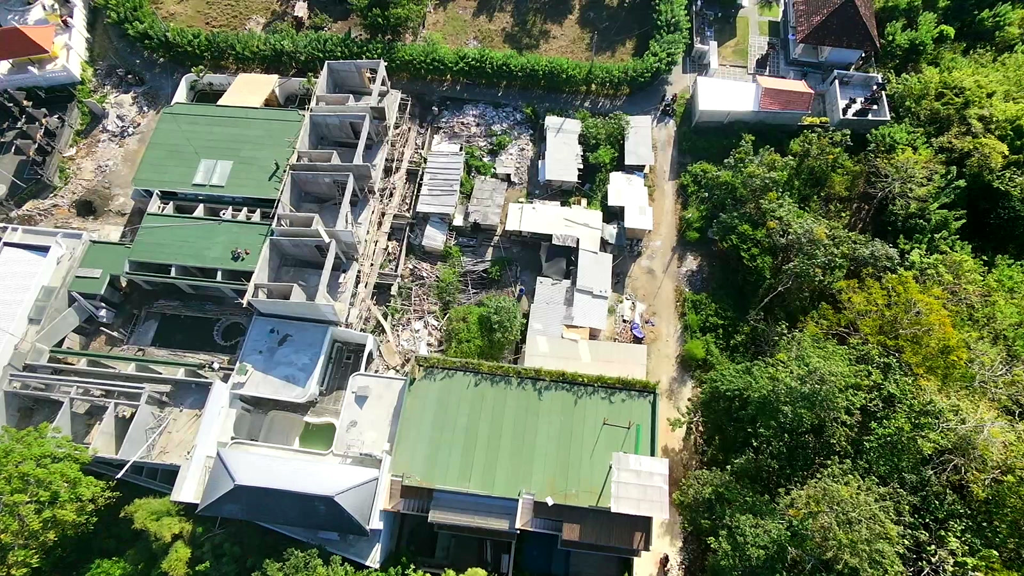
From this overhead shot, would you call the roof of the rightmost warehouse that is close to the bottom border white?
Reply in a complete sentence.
No, the roof of the rightmost warehouse that is close to the bottom border is actually green.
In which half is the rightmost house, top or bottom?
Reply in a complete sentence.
The rightmost house sits in the top half of the picture.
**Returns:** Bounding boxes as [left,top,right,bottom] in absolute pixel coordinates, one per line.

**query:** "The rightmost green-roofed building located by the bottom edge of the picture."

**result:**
[386,355,659,576]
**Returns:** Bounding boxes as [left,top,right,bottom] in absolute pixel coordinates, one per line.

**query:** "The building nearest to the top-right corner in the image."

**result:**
[788,0,881,71]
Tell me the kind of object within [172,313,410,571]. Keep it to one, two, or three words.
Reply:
house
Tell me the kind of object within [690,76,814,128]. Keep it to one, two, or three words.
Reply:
building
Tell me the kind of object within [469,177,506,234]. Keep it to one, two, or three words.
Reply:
shed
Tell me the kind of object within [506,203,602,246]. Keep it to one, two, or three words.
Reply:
shed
